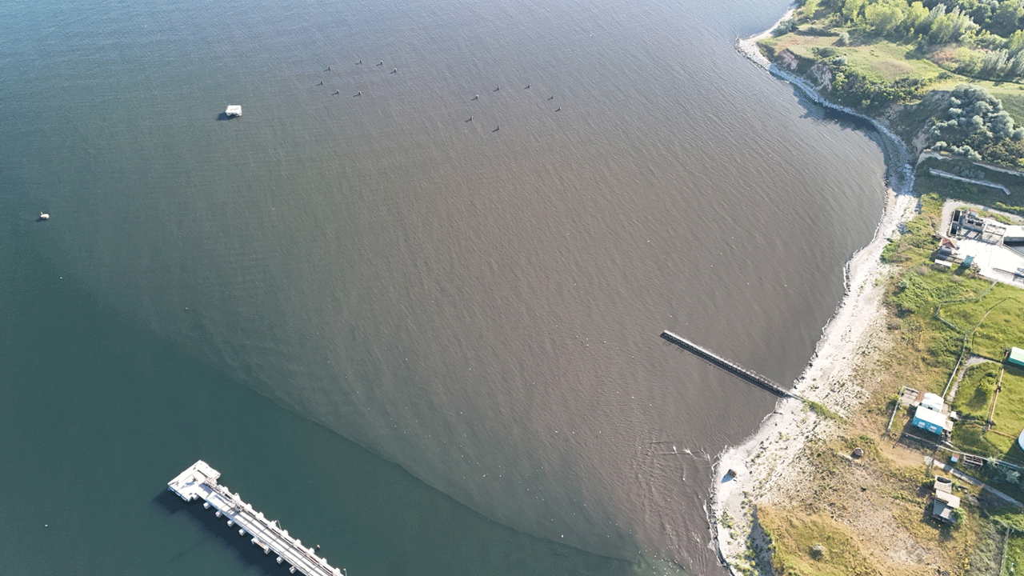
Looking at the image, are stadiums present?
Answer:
No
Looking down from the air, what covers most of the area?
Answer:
water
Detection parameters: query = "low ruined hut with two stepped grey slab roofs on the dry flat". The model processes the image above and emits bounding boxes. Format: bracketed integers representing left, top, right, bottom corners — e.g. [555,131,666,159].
[935,492,966,527]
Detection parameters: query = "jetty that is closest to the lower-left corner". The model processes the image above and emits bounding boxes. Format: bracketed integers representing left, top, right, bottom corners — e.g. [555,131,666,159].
[167,459,345,576]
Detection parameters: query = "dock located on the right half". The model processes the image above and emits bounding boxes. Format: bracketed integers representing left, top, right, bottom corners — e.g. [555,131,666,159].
[664,331,804,405]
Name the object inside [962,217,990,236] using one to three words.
building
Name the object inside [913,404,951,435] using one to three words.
building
